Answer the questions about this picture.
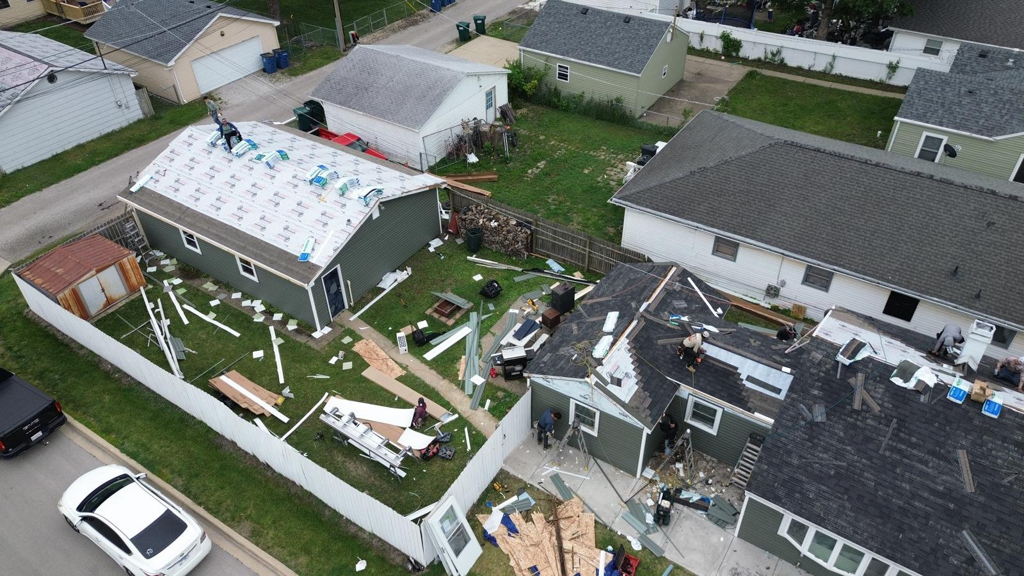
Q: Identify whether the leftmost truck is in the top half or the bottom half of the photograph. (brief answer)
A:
bottom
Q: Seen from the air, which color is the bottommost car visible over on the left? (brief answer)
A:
white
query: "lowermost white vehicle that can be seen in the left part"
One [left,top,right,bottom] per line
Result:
[62,469,217,576]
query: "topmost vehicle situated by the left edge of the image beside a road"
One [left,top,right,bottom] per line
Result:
[0,355,71,469]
